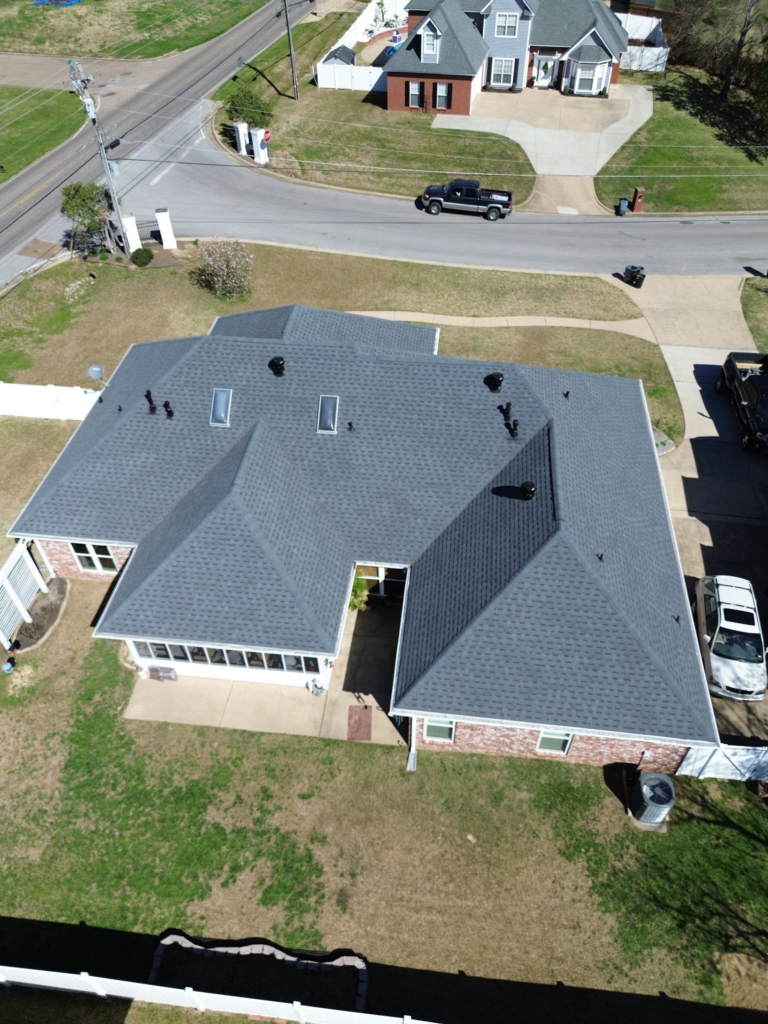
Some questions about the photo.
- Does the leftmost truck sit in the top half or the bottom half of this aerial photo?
top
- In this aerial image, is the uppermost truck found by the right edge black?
Yes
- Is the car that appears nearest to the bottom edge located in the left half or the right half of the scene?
right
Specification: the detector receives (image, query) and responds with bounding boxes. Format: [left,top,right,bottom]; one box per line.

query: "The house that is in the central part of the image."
[7,304,720,774]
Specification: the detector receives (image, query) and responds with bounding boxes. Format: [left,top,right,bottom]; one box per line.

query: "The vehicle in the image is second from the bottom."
[721,350,768,451]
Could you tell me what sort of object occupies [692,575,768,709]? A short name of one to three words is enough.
car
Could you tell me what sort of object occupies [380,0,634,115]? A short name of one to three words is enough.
house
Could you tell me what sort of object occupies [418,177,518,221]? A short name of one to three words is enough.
truck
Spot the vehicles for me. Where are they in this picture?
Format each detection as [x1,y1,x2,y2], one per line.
[692,575,768,709]
[418,177,518,221]
[721,350,768,451]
